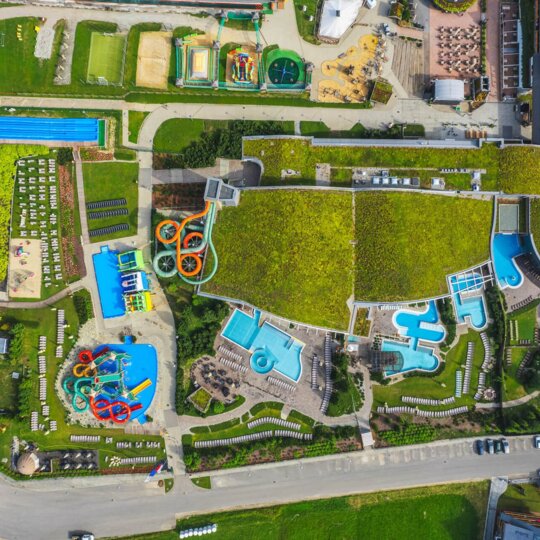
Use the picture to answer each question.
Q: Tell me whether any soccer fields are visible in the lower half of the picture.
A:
No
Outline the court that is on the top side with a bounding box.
[136,32,172,89]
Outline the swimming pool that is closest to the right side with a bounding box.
[493,233,525,288]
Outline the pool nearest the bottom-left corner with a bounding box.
[85,335,159,426]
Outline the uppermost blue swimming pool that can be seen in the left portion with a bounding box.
[92,245,132,319]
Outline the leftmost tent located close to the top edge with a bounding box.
[319,0,365,43]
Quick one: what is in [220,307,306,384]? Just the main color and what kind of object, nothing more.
blue swimming pool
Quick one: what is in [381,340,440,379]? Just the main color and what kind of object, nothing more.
blue swimming pool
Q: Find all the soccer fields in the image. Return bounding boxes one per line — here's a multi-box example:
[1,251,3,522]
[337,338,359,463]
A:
[85,28,127,86]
